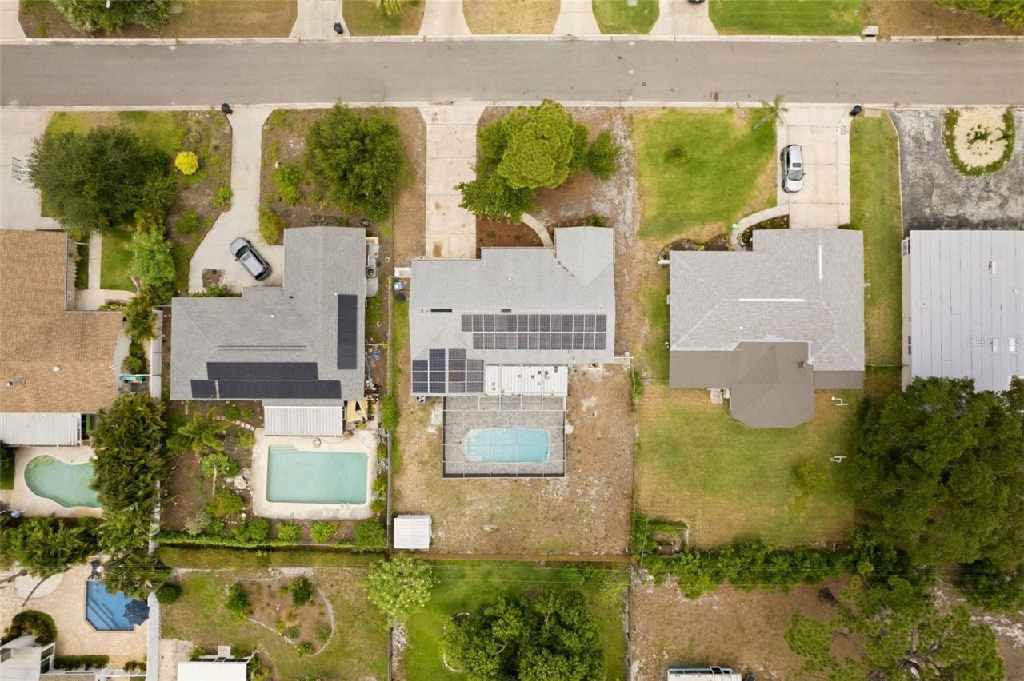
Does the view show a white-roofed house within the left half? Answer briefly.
Yes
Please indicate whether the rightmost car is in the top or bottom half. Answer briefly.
top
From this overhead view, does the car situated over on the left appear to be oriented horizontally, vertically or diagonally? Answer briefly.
diagonally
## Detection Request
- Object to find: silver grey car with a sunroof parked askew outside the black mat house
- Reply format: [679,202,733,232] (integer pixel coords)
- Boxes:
[230,236,273,283]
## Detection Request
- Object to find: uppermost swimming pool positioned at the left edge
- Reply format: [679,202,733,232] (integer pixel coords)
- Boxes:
[22,452,117,511]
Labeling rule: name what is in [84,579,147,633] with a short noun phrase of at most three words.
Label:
swimming pool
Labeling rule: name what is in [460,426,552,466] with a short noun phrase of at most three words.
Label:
swimming pool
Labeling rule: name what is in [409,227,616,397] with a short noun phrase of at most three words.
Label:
house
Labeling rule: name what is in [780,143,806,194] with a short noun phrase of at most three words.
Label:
car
